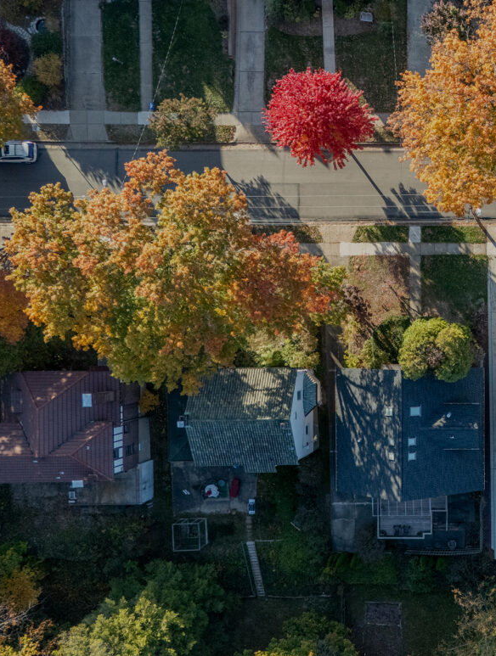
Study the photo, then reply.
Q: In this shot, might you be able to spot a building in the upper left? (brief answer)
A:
No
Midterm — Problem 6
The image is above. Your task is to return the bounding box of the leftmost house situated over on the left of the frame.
[0,370,161,507]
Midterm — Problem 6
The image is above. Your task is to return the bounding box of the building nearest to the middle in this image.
[167,368,324,466]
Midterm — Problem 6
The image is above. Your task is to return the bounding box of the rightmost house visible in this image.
[336,357,485,501]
